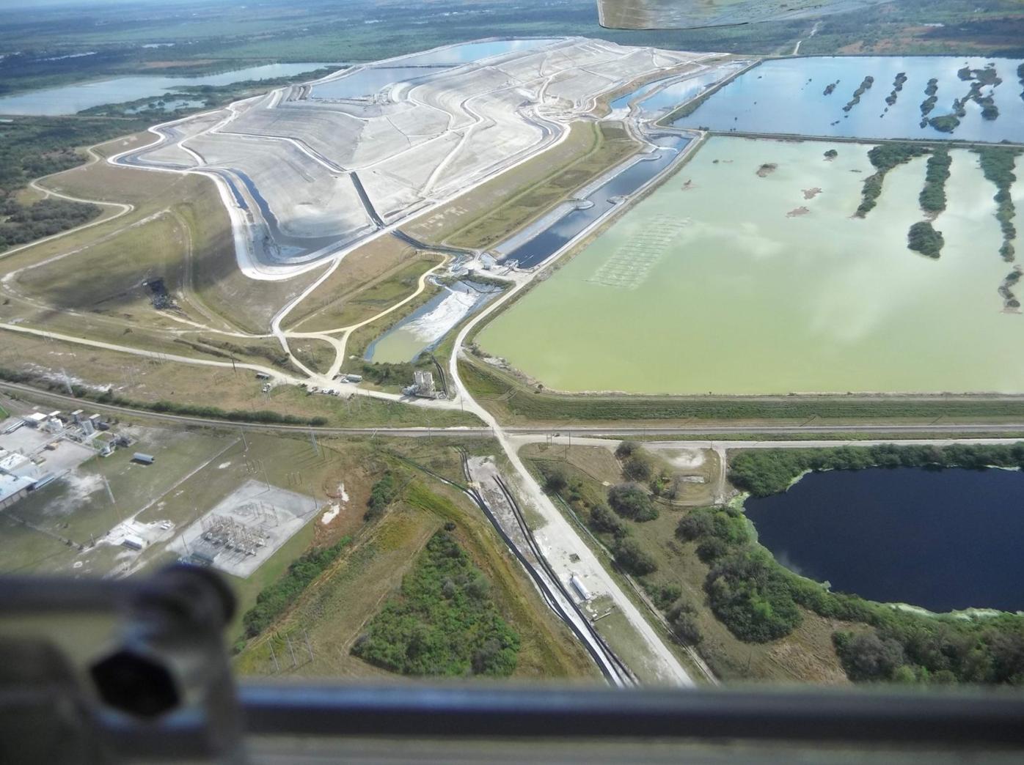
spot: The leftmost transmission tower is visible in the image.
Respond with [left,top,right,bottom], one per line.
[60,368,75,397]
